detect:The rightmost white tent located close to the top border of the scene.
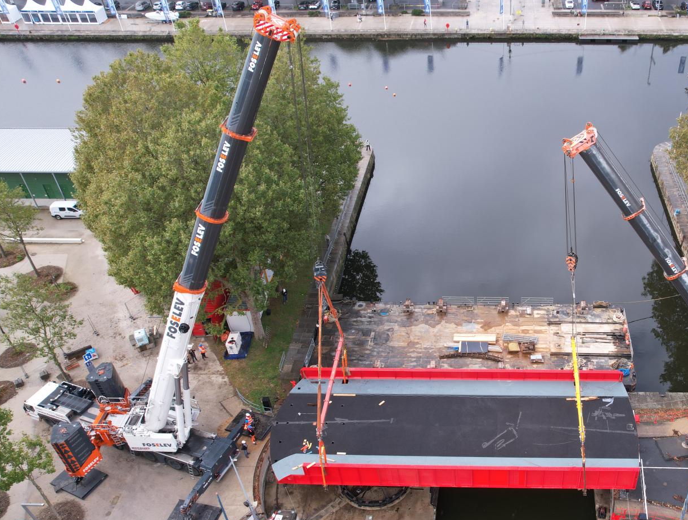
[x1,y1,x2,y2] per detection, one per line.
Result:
[20,0,109,24]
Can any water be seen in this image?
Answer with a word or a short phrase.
Yes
